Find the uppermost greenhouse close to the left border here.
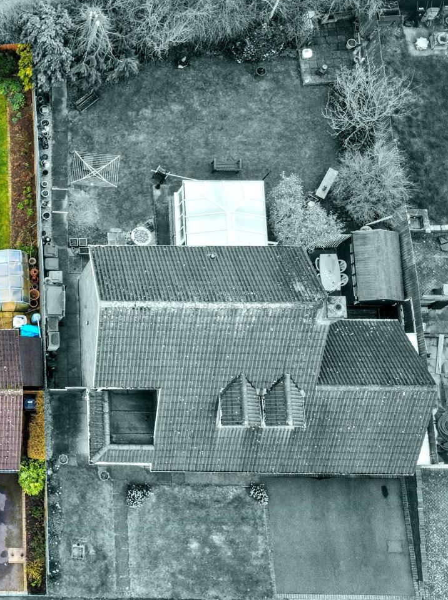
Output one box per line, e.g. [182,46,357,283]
[0,249,31,307]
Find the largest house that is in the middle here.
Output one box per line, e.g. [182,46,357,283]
[64,252,440,476]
